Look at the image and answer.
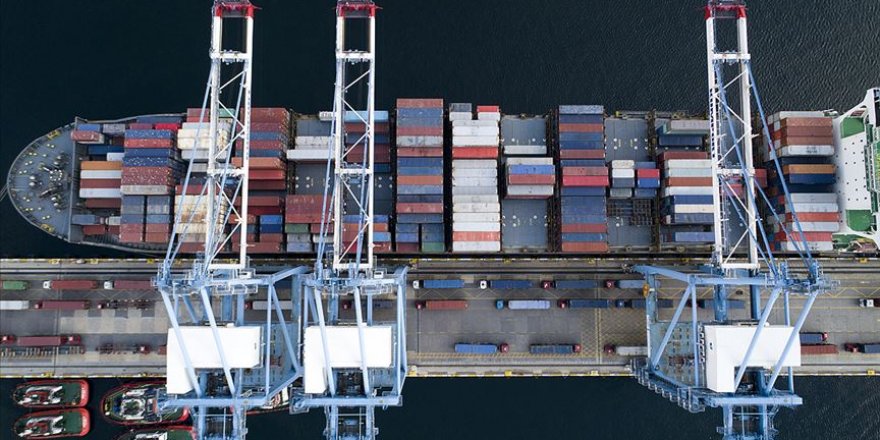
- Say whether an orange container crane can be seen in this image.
No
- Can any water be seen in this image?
Yes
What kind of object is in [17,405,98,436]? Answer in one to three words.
boat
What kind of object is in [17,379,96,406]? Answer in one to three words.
boat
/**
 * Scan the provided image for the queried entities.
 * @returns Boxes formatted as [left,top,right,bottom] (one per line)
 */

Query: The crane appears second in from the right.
[284,0,423,440]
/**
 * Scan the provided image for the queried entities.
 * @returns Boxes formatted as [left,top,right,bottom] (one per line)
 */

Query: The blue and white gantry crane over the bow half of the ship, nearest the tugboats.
[144,0,315,440]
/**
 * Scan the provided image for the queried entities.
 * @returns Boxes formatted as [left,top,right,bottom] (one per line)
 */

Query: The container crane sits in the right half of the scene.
[624,0,840,440]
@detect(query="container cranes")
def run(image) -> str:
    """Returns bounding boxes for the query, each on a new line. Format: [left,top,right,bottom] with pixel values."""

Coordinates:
[144,0,315,440]
[624,0,840,440]
[284,0,423,440]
